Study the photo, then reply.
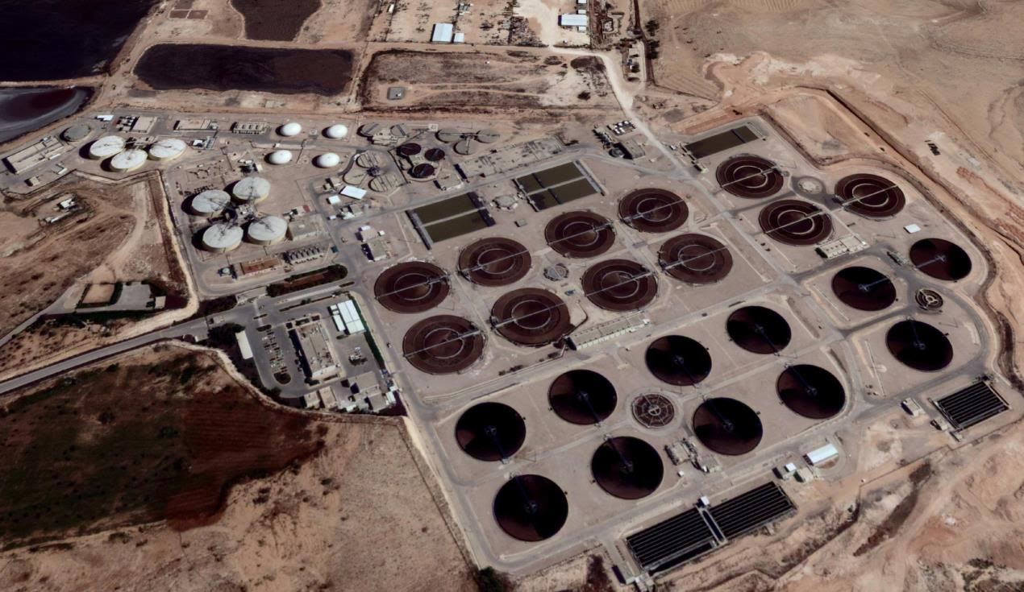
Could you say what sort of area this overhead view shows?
industrial area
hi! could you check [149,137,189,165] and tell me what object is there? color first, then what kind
white storage tank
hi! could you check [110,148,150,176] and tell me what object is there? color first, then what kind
white storage tank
